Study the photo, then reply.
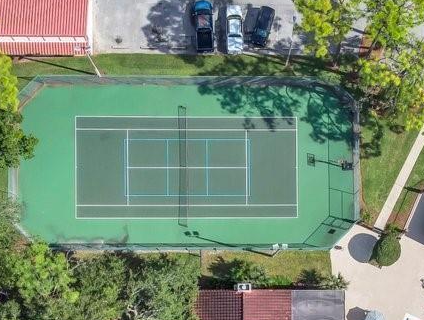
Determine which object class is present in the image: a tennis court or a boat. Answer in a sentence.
This aerial view contains a tennis court.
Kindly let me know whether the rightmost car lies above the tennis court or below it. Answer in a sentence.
Relative to the tennis court, the rightmost car lies above it.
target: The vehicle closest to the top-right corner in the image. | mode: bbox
[250,1,276,46]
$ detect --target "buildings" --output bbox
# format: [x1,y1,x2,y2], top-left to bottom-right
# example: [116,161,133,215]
[0,0,100,68]
[191,282,346,320]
